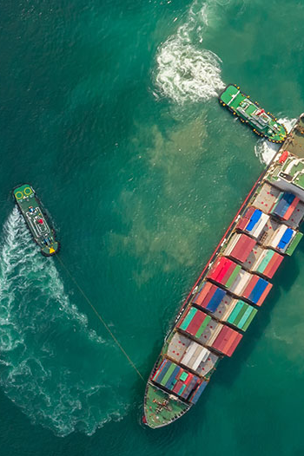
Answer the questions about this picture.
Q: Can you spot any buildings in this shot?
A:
No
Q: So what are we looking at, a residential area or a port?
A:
port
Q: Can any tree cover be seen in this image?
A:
No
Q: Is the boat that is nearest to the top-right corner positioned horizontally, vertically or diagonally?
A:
diagonally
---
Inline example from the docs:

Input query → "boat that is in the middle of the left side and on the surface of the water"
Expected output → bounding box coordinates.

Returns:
[13,182,60,258]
